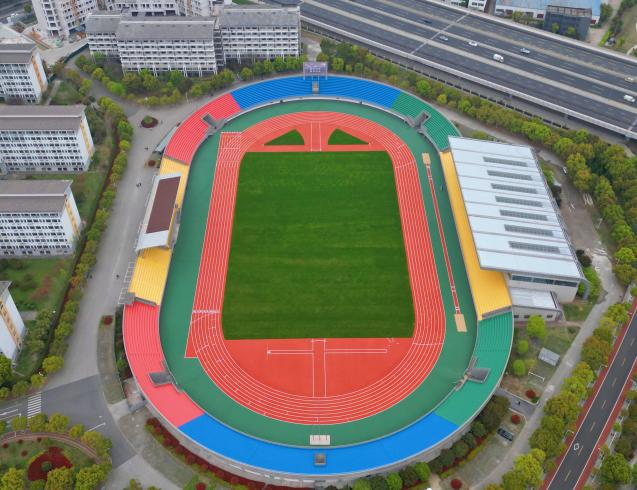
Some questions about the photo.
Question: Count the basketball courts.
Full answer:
I count no basketball courts.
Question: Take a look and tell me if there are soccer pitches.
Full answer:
Yes, there's a soccer pitch down there.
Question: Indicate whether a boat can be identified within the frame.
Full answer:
No, there is no boat in the image.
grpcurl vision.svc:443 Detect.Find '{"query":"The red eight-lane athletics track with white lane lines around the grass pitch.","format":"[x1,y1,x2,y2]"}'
[184,111,446,425]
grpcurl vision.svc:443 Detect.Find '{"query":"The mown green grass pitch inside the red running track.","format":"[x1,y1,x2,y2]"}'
[220,128,417,340]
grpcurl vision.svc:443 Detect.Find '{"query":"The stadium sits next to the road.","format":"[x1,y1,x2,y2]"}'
[118,76,514,487]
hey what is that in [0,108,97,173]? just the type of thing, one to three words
building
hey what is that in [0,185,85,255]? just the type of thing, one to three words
building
